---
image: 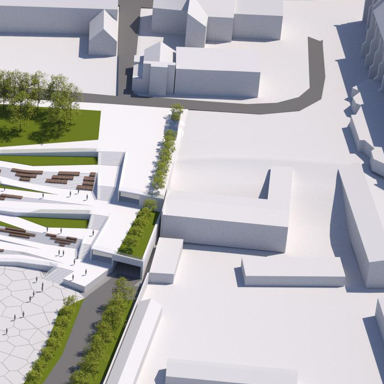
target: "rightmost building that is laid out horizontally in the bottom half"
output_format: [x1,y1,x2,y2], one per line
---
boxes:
[241,257,345,286]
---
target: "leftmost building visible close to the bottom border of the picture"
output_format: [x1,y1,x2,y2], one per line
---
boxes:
[106,299,162,384]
